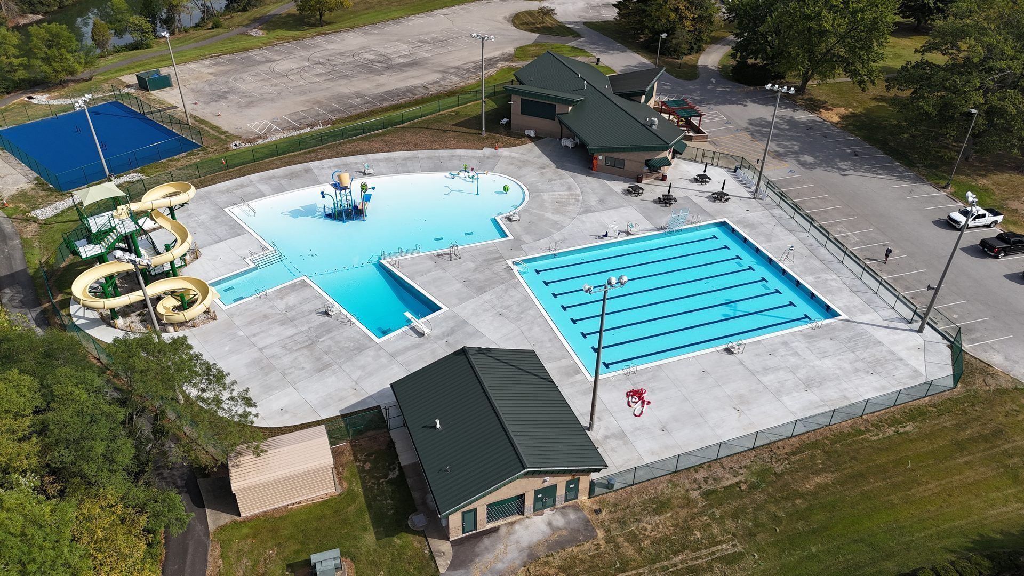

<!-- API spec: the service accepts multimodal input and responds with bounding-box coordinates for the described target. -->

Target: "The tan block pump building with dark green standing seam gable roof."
[390,346,608,542]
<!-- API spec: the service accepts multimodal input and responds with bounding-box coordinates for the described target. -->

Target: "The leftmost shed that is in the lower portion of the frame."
[226,424,342,521]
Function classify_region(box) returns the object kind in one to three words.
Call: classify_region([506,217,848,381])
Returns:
swimming pool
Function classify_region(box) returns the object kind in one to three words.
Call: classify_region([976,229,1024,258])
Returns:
truck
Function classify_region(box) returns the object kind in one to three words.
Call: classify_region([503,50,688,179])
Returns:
building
